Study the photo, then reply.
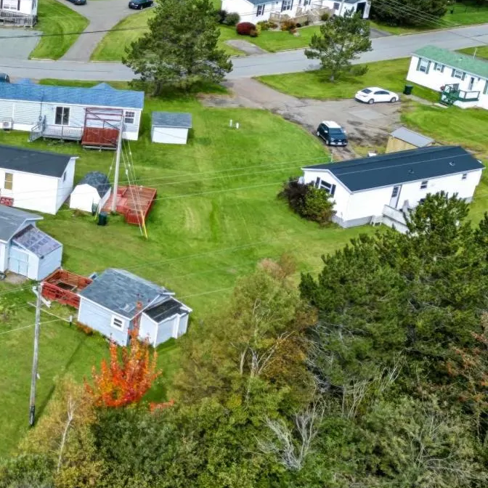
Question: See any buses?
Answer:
No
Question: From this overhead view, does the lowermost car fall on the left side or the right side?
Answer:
right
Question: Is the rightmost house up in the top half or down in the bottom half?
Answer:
top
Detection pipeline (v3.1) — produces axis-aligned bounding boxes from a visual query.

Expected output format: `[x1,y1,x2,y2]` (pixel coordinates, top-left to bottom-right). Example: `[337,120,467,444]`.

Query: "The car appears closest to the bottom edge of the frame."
[318,112,347,143]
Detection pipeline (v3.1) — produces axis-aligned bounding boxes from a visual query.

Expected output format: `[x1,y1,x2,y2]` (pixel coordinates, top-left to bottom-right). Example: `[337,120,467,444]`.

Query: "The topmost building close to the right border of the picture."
[406,41,488,107]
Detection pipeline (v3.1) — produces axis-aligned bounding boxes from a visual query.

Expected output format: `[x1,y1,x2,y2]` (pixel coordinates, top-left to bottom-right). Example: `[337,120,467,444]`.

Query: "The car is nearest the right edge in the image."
[354,86,403,104]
